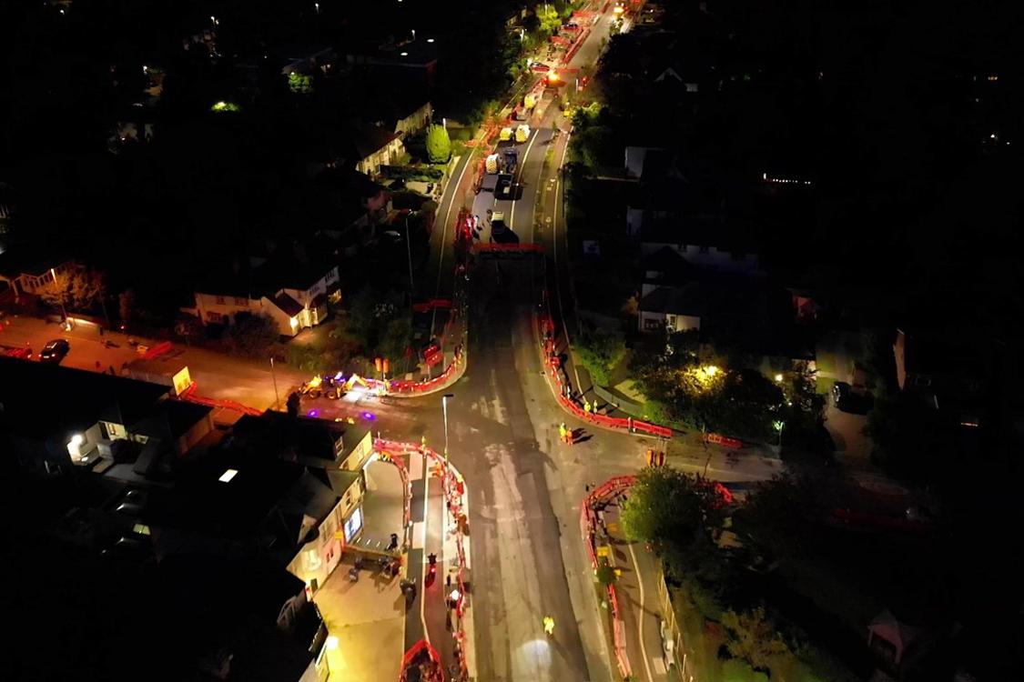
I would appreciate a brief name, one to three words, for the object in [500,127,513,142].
vehicle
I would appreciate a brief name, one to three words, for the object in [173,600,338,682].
building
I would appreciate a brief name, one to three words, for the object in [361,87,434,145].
house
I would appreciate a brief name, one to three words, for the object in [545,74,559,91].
work vehicle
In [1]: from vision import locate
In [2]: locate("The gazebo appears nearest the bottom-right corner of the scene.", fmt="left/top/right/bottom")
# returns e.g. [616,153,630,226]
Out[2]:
[862,599,927,676]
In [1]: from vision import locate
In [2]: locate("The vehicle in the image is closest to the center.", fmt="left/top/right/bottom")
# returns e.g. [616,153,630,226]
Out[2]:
[490,214,505,235]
